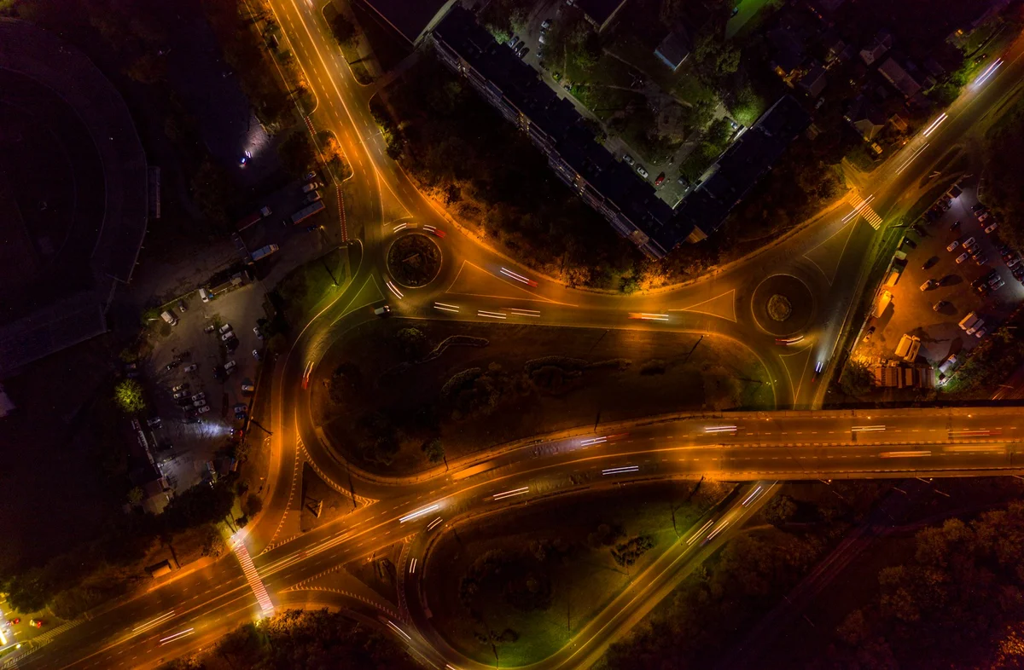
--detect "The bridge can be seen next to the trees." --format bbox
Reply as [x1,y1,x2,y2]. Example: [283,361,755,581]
[739,409,1024,481]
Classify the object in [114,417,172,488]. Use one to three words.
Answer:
shed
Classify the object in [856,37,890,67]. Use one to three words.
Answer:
house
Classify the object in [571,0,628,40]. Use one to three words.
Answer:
building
